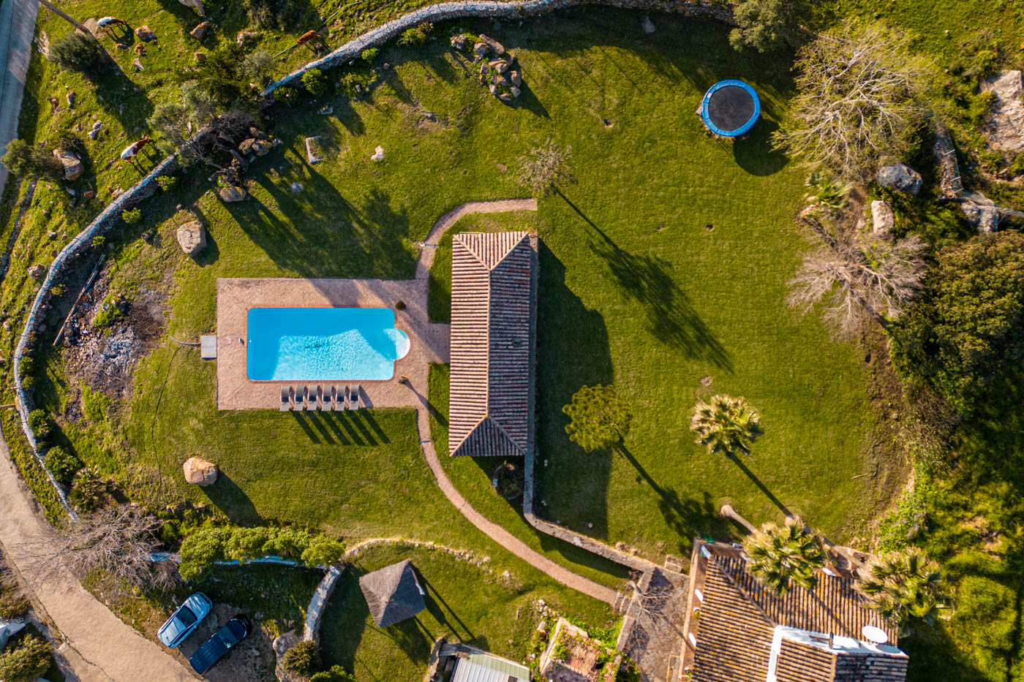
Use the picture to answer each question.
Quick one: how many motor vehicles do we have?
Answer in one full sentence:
The picture shows 2 motor vehicles.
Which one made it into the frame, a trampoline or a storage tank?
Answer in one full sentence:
Looking from above, you can make out a trampoline.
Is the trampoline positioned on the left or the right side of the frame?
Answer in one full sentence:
The trampoline is on the right side of the image.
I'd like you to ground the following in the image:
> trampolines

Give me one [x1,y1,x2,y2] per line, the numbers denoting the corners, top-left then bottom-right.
[701,80,760,139]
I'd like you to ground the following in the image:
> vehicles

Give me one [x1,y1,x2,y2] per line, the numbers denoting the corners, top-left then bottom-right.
[155,588,216,650]
[184,610,256,679]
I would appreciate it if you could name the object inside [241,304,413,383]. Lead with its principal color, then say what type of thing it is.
blue swimming pool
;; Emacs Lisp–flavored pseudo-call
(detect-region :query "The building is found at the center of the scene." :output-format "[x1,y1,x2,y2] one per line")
[447,230,530,458]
